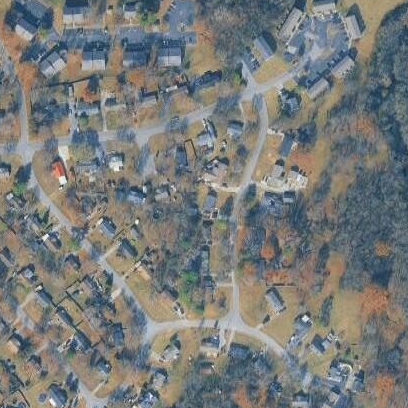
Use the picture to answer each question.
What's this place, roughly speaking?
residential area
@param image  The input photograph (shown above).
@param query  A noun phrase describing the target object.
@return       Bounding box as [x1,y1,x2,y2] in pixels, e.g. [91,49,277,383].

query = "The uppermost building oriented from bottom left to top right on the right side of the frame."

[276,7,305,38]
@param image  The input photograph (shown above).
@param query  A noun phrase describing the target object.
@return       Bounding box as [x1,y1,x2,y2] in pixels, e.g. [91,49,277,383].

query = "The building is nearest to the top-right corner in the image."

[343,13,363,40]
